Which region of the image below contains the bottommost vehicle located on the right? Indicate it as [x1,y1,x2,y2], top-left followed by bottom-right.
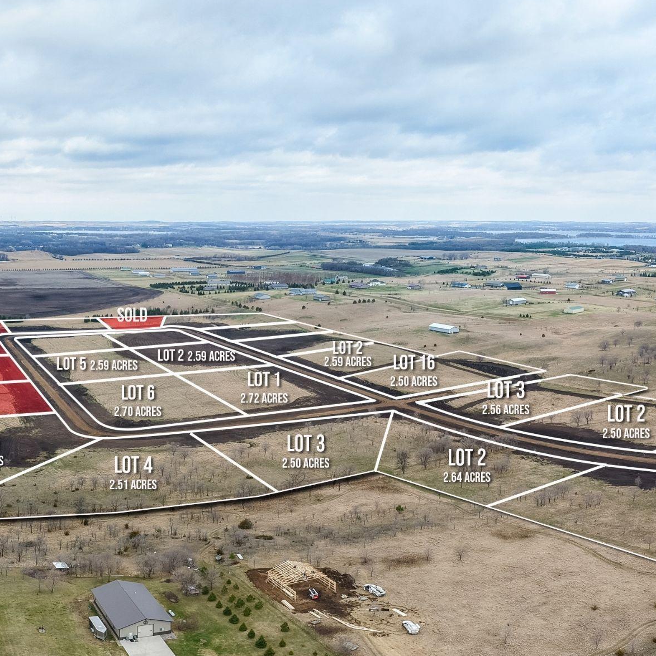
[405,621,422,634]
